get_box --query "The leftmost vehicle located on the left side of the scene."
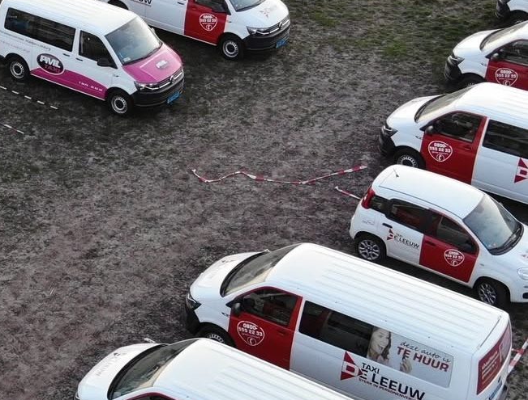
[0,0,182,119]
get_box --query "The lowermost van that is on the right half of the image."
[183,242,514,400]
